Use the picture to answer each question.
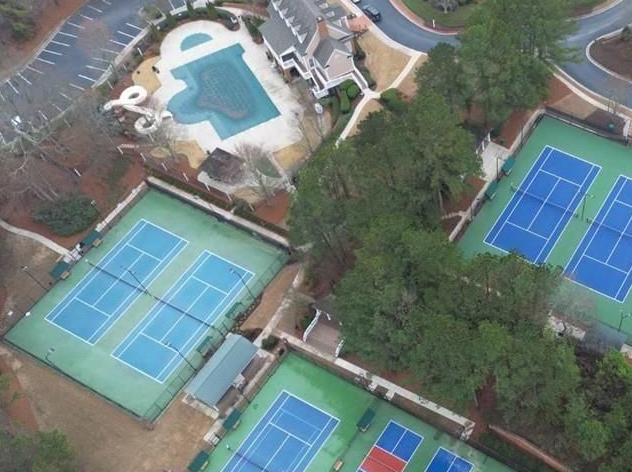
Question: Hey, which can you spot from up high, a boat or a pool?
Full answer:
It is a pool that can be seen here.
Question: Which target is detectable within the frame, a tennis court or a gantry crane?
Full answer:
It is a tennis court that can be seen here.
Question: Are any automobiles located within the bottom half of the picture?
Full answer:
No, within the bottom half of the picture there is no automobile.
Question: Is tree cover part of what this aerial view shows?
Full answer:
Yes, some tree cover is visible.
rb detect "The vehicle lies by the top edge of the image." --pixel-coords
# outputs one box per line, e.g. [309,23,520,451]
[361,3,381,19]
